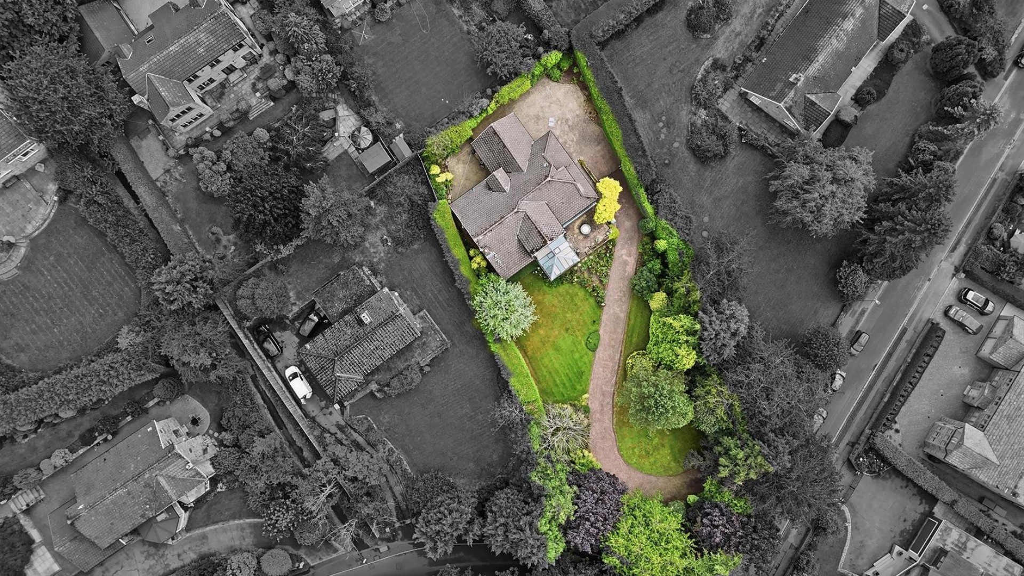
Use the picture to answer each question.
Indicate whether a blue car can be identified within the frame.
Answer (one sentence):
No, I can't see a single blue car in this photo.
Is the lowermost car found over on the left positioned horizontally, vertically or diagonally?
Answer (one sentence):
The lowermost car found over on the left has been laid out diagonally relative to the frame.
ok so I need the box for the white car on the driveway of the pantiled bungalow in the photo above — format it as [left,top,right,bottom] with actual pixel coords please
[282,363,317,405]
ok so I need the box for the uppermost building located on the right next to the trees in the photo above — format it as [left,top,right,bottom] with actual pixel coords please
[737,0,916,134]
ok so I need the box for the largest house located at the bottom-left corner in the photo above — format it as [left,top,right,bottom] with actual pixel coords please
[48,419,223,573]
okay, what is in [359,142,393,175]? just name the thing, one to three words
shed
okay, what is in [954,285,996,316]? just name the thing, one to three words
car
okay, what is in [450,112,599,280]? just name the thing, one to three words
house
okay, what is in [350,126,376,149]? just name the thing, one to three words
gazebo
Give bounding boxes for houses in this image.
[997,229,1024,257]
[861,511,1024,576]
[117,0,256,130]
[450,112,599,280]
[297,265,420,404]
[319,0,368,23]
[925,369,1024,508]
[0,109,48,181]
[737,0,916,134]
[48,419,223,573]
